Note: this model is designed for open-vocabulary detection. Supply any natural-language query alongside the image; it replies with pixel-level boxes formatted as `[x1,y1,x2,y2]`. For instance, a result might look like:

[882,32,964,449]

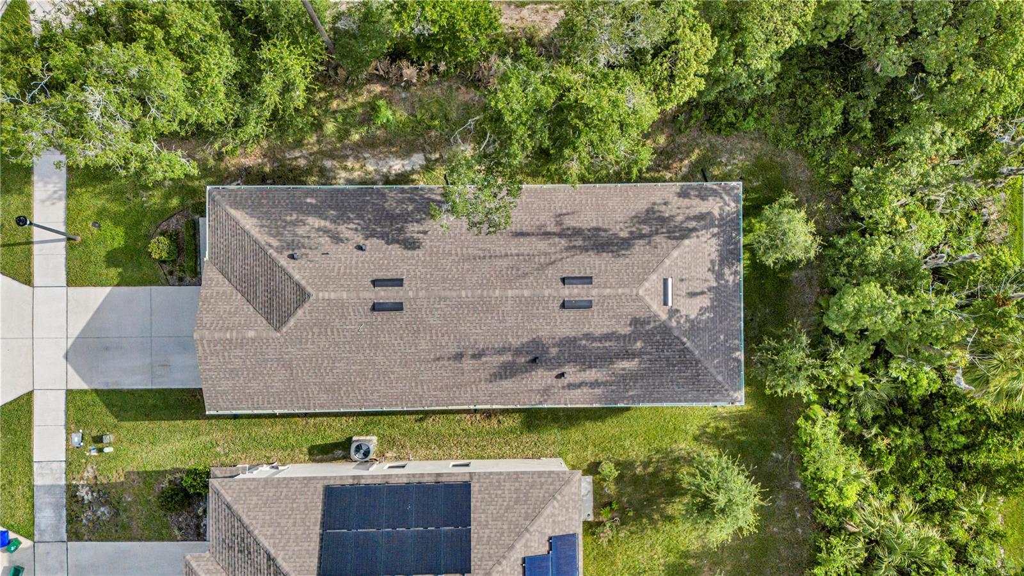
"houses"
[191,169,745,413]
[183,457,584,576]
